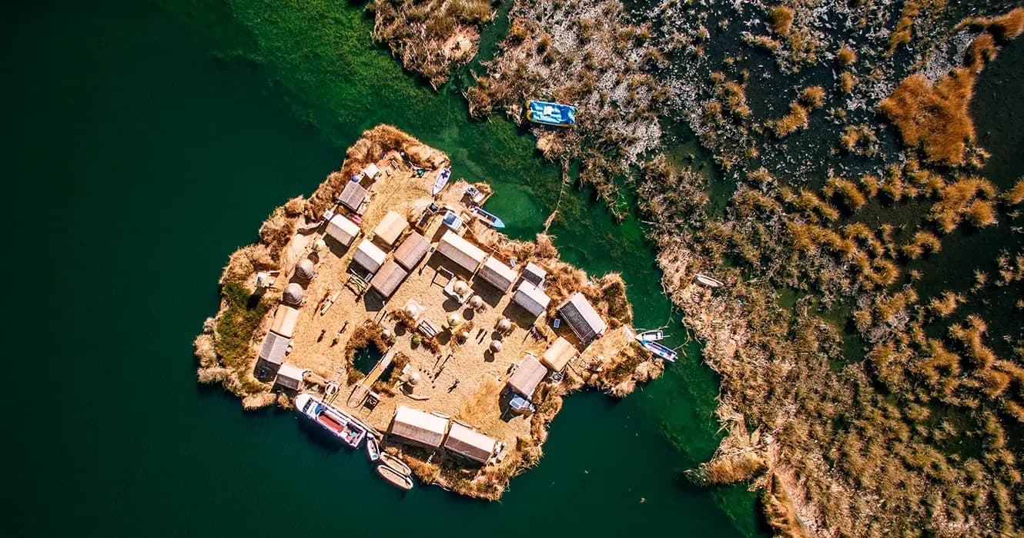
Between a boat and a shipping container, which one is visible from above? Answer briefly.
boat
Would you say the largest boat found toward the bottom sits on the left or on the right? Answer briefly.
left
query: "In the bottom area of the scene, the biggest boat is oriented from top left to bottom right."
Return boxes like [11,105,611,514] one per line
[294,397,365,448]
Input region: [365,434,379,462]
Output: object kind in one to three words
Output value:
boat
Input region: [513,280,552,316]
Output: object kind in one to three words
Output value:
building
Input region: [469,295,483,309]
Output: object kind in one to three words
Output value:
umbrella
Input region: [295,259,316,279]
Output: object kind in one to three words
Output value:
shed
